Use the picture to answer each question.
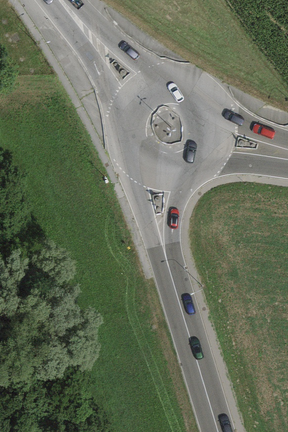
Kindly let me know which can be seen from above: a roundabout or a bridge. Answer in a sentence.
This aerial view contains a roundabout.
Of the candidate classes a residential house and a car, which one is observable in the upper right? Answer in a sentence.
Looking in the upper right, you will find a car.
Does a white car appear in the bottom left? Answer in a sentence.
No, I can find no white car in the bottom left.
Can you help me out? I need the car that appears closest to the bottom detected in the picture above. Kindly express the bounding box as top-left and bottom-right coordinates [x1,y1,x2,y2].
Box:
[220,414,232,432]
